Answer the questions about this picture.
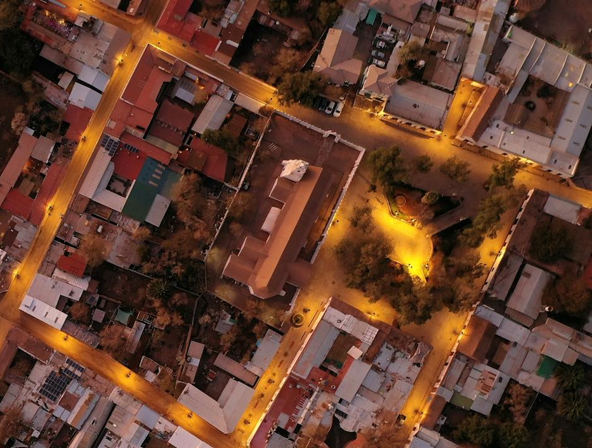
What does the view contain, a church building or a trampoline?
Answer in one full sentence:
The one in the frame is a church building.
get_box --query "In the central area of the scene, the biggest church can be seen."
[218,162,338,300]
